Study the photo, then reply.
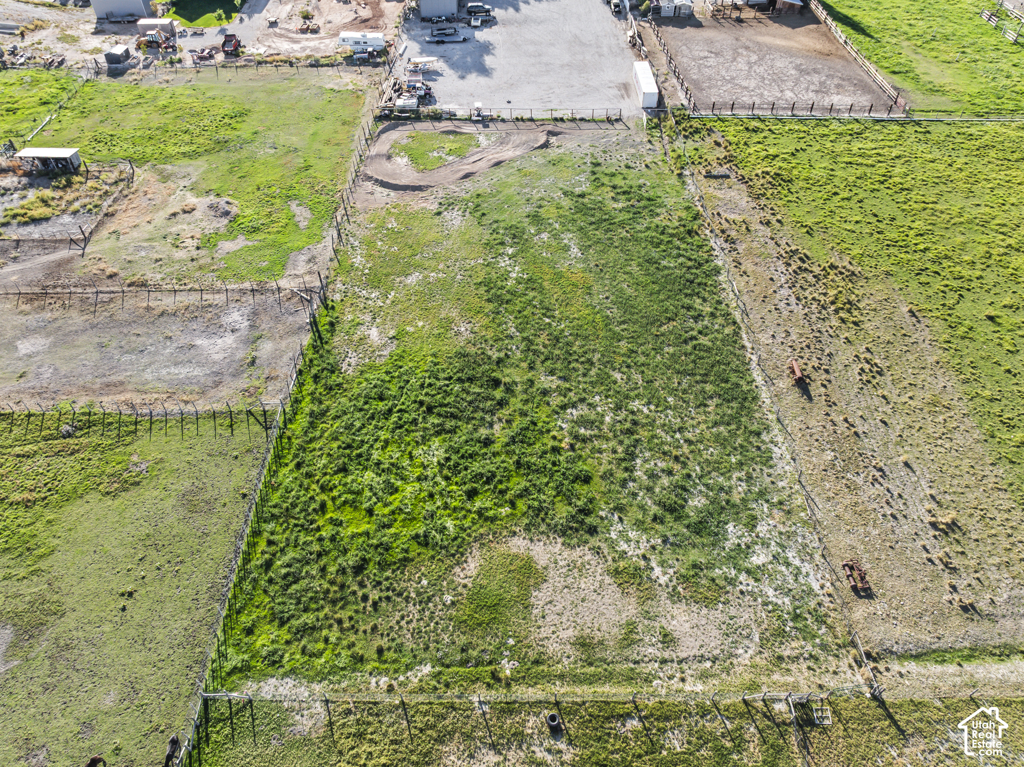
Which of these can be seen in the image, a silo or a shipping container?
shipping container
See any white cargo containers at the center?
No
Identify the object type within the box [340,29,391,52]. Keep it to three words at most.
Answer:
vehicle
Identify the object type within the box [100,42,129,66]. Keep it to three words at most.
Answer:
shed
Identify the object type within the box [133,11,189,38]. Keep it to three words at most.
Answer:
shed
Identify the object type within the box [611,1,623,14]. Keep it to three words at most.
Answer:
vehicle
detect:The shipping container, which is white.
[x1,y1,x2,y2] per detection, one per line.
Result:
[633,61,661,108]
